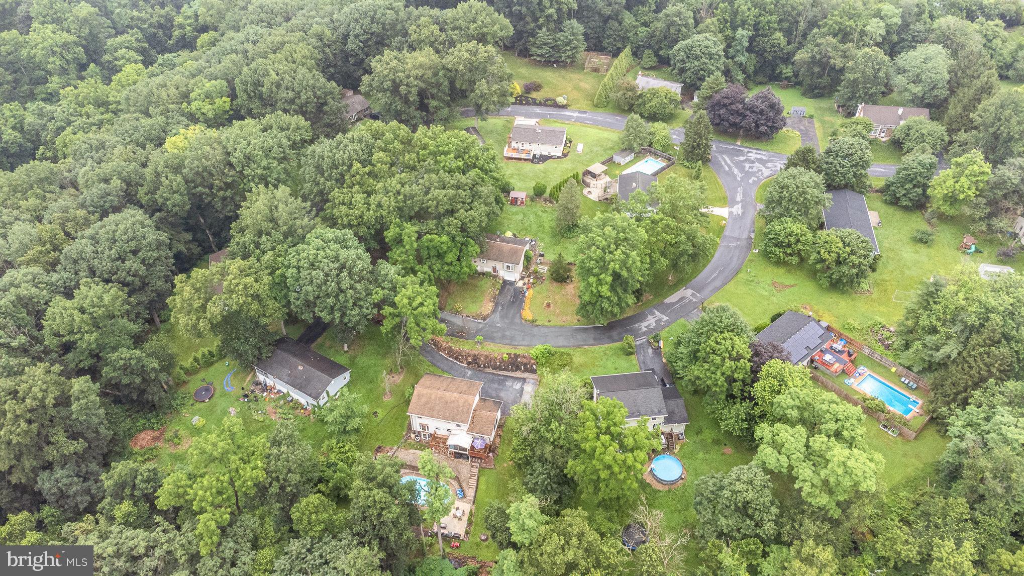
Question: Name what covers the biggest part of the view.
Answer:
trees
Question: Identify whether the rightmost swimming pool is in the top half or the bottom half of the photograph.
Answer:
bottom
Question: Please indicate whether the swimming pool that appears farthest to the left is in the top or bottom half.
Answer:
bottom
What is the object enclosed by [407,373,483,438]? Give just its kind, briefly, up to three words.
house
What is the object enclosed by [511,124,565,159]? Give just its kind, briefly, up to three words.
house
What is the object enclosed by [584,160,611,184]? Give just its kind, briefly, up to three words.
gazebo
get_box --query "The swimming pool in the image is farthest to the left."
[405,472,454,511]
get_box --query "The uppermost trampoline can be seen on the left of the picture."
[190,383,215,402]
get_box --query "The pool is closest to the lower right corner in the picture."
[855,372,919,417]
